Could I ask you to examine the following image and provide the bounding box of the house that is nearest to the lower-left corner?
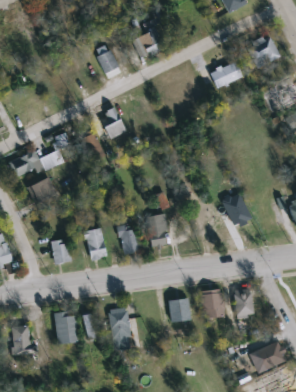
[11,324,30,353]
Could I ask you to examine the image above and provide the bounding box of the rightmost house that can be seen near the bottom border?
[251,342,287,372]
